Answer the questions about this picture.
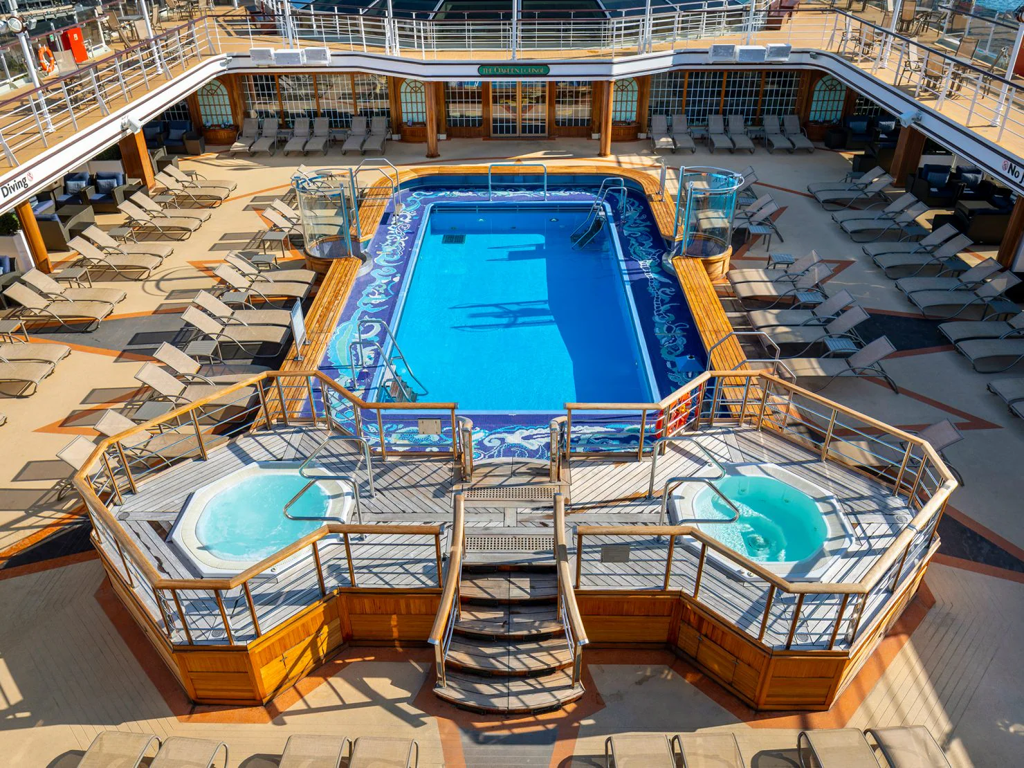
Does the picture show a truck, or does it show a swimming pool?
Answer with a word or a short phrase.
swimming pool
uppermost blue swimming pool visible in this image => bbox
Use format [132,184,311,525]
[368,200,663,416]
